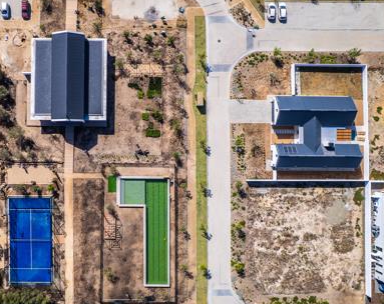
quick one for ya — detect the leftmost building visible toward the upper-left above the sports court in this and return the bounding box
[28,29,107,127]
